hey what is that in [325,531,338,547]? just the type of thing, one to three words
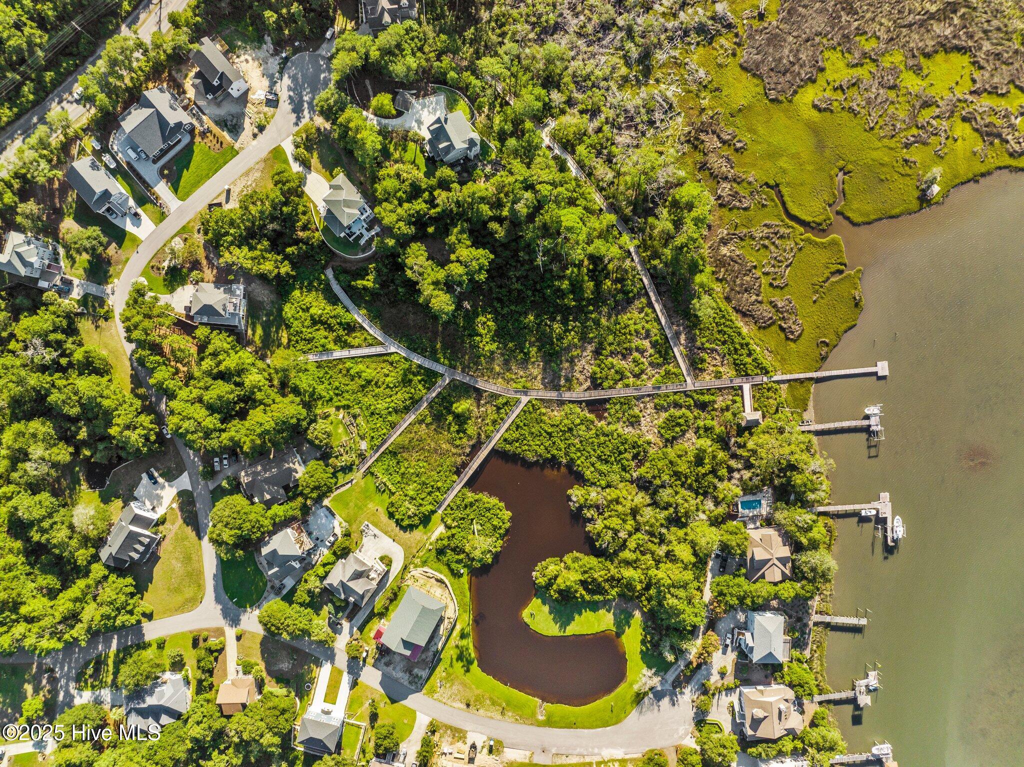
vehicle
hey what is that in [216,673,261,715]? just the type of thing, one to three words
house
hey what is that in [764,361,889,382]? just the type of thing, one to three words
pier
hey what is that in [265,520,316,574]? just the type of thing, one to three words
house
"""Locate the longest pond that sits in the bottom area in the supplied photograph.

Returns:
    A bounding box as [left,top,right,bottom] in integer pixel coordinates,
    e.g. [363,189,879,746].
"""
[456,442,627,706]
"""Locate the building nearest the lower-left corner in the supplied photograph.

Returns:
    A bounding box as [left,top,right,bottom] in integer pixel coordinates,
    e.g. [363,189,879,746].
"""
[125,668,205,740]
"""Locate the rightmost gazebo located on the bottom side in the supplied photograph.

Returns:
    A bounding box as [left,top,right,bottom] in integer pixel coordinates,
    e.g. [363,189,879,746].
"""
[851,688,870,706]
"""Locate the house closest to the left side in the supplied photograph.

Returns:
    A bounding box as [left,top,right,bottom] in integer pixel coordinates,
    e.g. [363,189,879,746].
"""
[0,233,70,284]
